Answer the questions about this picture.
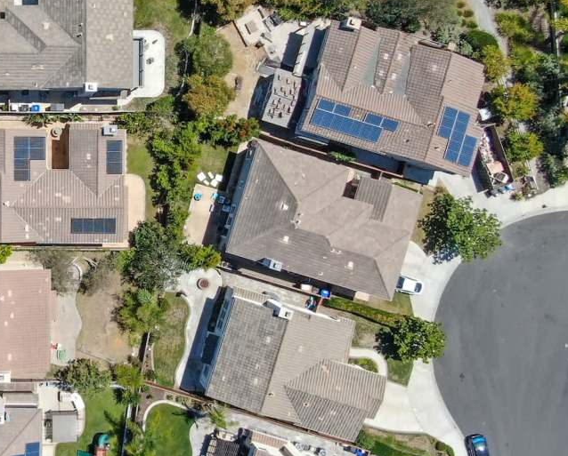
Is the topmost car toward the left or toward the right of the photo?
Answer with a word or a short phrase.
right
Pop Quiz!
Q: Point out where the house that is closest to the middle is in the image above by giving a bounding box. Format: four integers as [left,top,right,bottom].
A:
[221,140,424,301]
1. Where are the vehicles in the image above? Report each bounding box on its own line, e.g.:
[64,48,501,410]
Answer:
[464,433,487,456]
[394,275,427,296]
